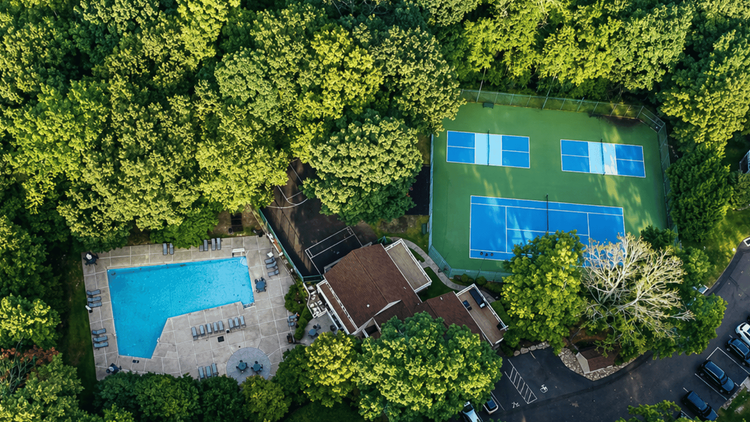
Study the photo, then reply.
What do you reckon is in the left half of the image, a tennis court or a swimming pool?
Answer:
swimming pool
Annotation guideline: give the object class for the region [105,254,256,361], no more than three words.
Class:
swimming pool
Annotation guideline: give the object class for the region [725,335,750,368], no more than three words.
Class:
car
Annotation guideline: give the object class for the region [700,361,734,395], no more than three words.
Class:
car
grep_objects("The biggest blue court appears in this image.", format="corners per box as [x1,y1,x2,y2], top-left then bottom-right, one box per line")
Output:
[469,196,628,271]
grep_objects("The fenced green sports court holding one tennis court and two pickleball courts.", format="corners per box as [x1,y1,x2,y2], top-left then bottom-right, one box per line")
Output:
[430,101,672,295]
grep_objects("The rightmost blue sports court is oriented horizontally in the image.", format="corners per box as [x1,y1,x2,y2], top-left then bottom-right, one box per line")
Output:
[560,139,646,177]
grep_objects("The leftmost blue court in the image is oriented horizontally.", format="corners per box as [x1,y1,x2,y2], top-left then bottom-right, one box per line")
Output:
[446,130,530,169]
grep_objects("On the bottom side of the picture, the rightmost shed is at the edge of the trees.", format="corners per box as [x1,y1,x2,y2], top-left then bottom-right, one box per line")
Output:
[582,344,615,372]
